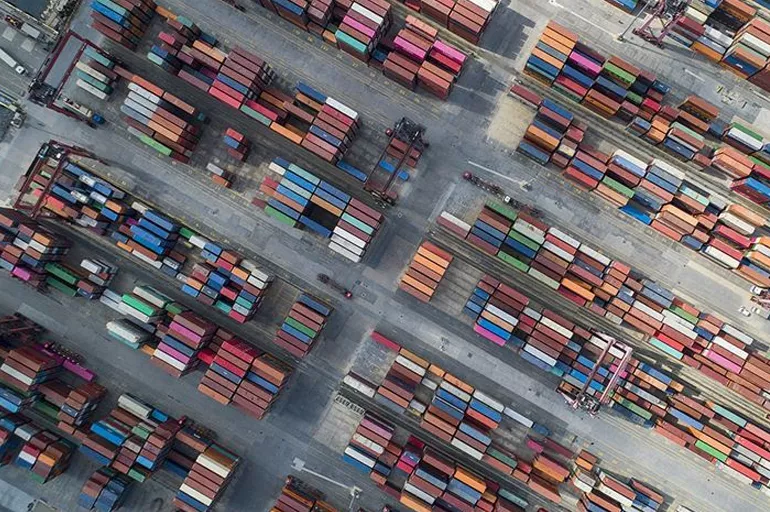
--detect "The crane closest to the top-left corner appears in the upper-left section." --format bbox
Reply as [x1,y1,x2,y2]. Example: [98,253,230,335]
[29,26,126,126]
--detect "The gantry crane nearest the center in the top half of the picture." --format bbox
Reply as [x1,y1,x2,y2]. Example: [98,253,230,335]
[357,113,427,208]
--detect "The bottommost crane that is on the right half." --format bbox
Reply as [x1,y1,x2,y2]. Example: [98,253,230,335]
[554,328,642,423]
